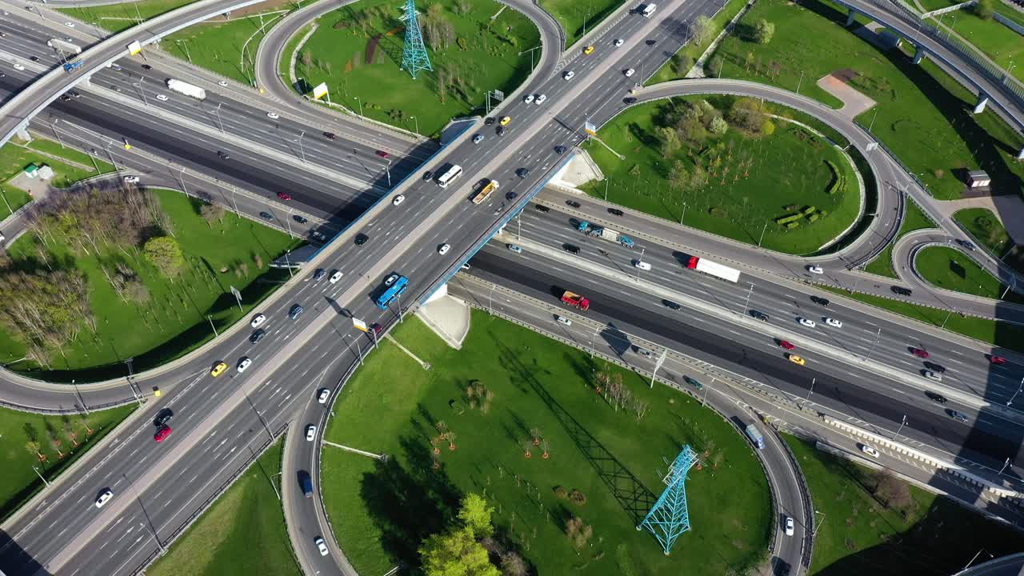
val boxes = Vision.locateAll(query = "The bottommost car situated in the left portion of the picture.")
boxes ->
[315,537,328,557]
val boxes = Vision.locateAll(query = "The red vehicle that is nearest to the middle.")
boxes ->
[560,291,589,311]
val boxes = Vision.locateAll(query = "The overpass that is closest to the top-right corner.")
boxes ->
[806,0,1024,157]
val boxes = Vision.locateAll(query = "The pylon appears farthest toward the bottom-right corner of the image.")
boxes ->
[636,443,696,555]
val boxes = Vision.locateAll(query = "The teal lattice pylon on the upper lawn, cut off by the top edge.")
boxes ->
[399,0,434,79]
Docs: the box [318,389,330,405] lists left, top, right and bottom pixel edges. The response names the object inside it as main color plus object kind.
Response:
white vehicle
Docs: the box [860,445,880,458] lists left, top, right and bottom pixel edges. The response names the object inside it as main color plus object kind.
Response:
white vehicle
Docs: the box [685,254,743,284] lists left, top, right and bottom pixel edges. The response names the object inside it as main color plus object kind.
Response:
white truck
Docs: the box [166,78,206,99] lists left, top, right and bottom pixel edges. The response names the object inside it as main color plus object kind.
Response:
white truck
